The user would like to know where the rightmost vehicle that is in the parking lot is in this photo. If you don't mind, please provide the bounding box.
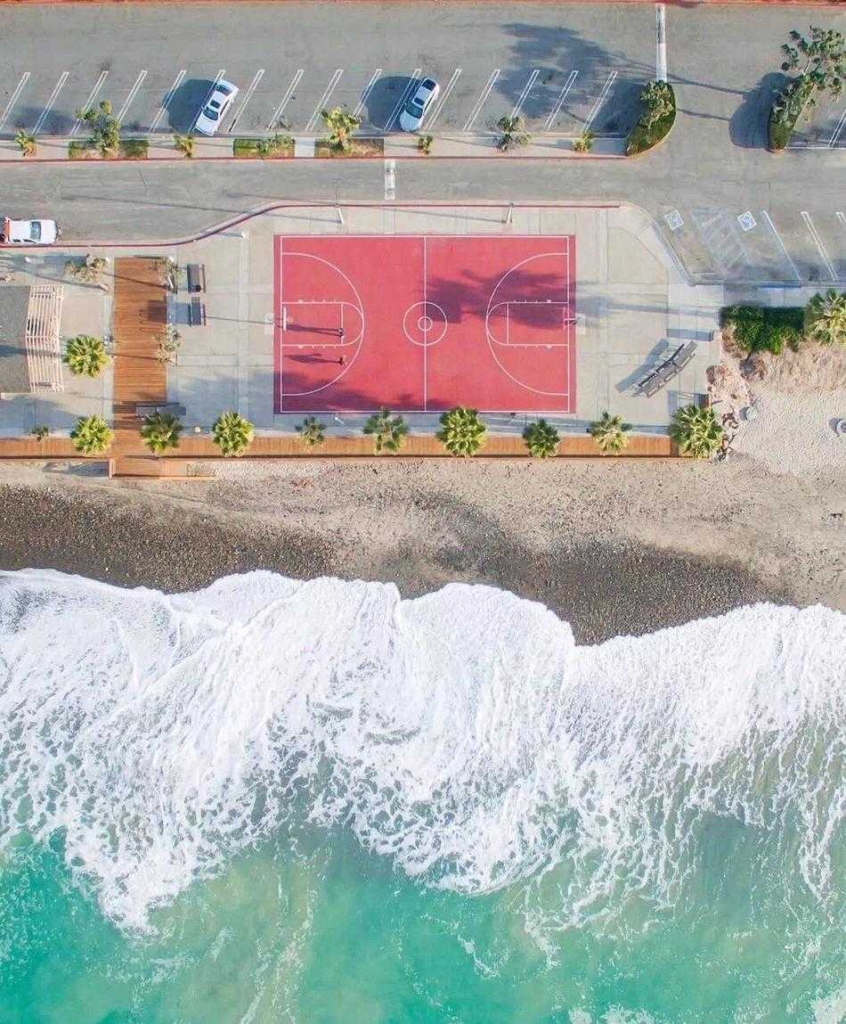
[402,78,439,133]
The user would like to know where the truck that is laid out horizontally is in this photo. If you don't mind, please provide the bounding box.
[0,216,61,244]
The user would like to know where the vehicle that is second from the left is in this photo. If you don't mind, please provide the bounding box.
[197,81,238,136]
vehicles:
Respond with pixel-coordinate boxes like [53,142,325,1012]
[197,81,238,136]
[0,216,61,244]
[402,78,439,133]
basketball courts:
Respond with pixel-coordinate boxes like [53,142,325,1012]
[274,235,576,415]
